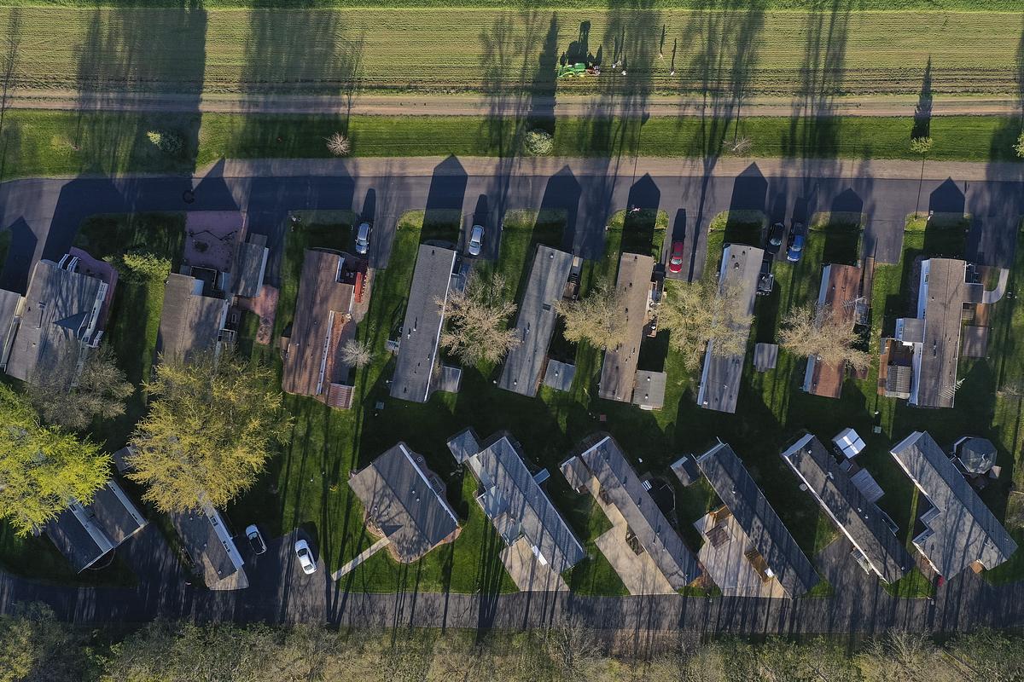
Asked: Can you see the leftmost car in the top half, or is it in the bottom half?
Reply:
bottom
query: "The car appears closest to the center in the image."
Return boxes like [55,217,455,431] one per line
[467,224,484,257]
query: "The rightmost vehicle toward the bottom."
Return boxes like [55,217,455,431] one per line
[294,538,317,575]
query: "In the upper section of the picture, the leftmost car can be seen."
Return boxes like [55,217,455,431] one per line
[354,222,372,256]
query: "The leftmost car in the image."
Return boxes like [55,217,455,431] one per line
[245,523,268,557]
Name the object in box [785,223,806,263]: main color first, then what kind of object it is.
blue truck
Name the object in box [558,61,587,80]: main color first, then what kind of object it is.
green work vehicle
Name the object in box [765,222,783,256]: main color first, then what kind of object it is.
black car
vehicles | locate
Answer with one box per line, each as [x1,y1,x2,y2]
[467,224,484,257]
[245,523,268,557]
[294,538,317,575]
[558,61,587,80]
[785,223,806,263]
[667,240,684,274]
[354,222,372,256]
[765,222,783,256]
